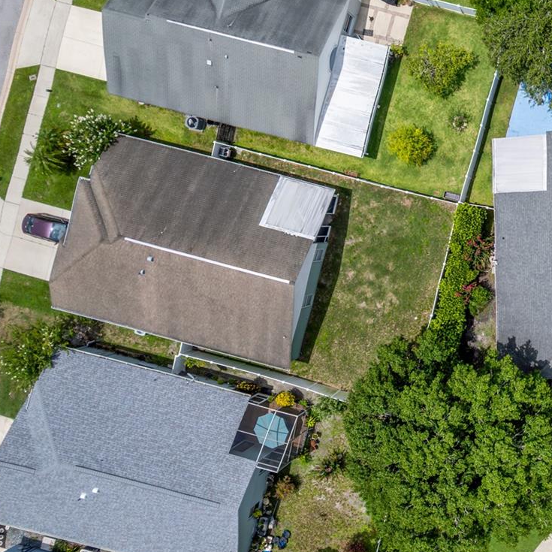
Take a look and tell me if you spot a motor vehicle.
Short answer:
Yes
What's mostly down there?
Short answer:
buildings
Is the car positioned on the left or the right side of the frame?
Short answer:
left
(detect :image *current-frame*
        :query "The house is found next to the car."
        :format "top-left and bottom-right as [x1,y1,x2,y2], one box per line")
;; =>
[48,133,339,371]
